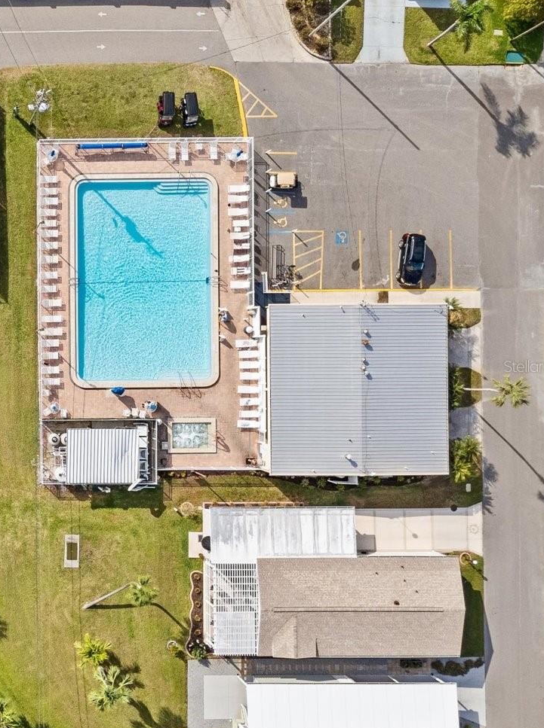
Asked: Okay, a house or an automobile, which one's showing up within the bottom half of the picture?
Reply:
house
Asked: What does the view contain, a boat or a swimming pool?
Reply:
swimming pool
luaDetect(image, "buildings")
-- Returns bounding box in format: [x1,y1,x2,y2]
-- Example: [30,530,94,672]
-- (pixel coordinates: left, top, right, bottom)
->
[67,429,139,485]
[228,680,460,728]
[263,300,451,477]
[205,506,465,659]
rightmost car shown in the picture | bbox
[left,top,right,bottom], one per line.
[400,233,432,287]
